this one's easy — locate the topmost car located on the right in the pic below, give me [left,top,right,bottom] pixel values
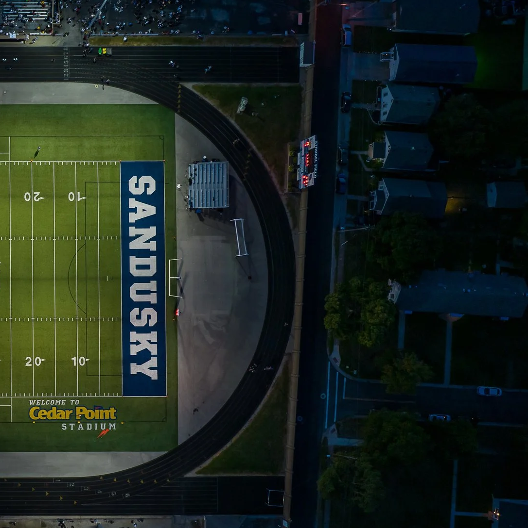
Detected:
[341,24,354,47]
